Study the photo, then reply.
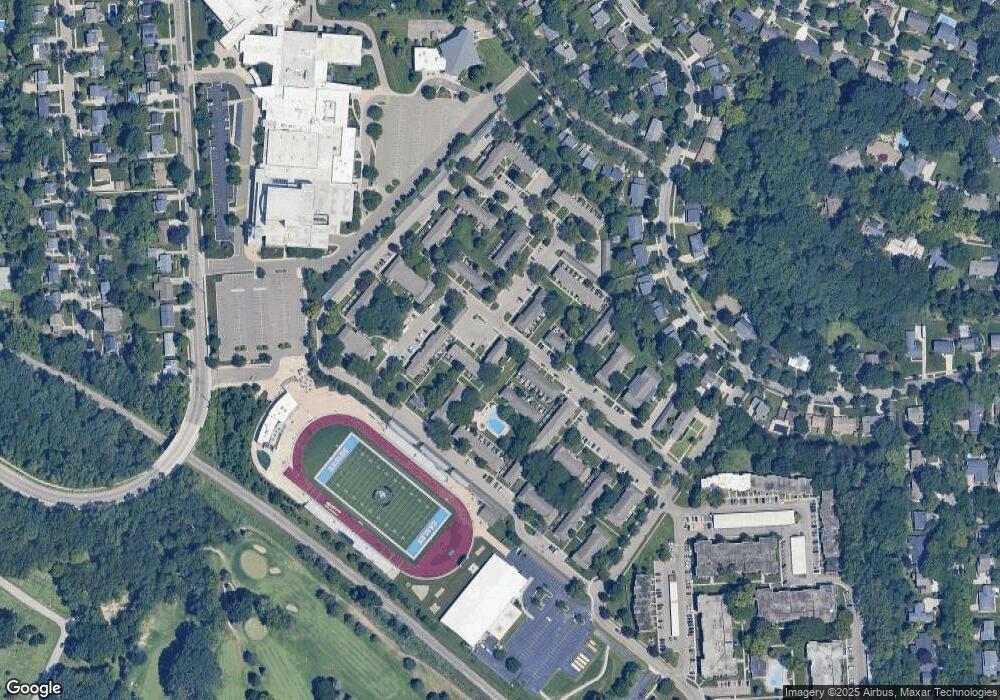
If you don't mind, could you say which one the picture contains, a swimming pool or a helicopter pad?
swimming pool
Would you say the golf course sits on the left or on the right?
left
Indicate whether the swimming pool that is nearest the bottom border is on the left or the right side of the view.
right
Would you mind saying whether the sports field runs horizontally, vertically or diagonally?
diagonally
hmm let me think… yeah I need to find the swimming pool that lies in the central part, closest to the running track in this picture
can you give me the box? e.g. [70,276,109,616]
[472,401,510,438]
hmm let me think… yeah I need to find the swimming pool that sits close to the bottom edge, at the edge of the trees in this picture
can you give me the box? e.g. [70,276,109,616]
[766,657,790,696]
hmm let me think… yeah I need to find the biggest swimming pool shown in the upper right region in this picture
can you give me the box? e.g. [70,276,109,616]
[866,132,909,164]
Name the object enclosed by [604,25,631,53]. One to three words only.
house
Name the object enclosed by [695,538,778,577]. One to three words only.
building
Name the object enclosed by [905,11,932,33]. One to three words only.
house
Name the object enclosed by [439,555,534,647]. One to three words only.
building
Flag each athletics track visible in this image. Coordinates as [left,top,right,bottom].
[282,413,474,579]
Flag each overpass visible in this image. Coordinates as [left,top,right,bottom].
[154,413,205,472]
